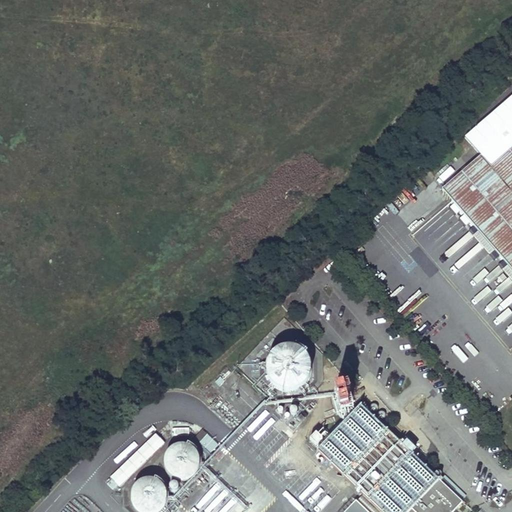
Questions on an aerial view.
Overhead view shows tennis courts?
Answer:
No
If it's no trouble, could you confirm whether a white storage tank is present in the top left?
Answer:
No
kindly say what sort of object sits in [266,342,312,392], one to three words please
storage tank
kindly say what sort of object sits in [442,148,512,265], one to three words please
building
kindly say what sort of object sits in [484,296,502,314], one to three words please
vehicle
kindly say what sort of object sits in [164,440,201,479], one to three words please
storage tank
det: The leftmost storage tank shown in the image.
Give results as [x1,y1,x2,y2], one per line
[130,475,169,512]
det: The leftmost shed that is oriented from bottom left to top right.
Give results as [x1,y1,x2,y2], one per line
[111,433,165,487]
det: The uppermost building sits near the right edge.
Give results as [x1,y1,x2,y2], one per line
[465,94,512,166]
